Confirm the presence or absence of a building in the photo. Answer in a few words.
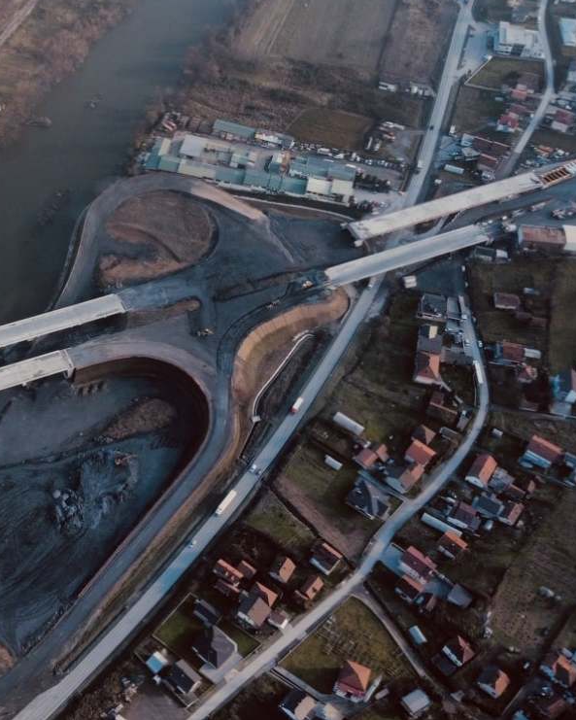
Yes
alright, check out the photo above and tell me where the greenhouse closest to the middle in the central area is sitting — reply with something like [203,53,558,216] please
[331,413,367,440]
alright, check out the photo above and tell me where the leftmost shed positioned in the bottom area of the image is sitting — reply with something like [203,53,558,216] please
[147,651,166,673]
